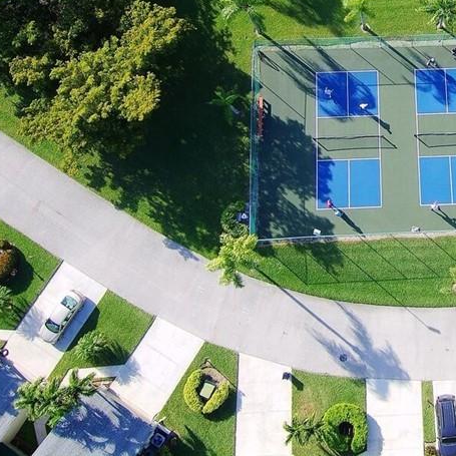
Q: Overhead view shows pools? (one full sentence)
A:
No, there isn't any pool down there.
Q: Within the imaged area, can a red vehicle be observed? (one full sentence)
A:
No, no red vehicle is visible in the scene.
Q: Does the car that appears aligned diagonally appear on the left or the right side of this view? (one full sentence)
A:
The car that appears aligned diagonally sits on the left side.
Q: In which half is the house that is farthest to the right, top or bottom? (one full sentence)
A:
Seen from above, the house that is farthest to the right lies in the bottom half of the view.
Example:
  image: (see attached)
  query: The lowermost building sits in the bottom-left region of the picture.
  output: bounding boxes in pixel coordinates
[51,390,155,456]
